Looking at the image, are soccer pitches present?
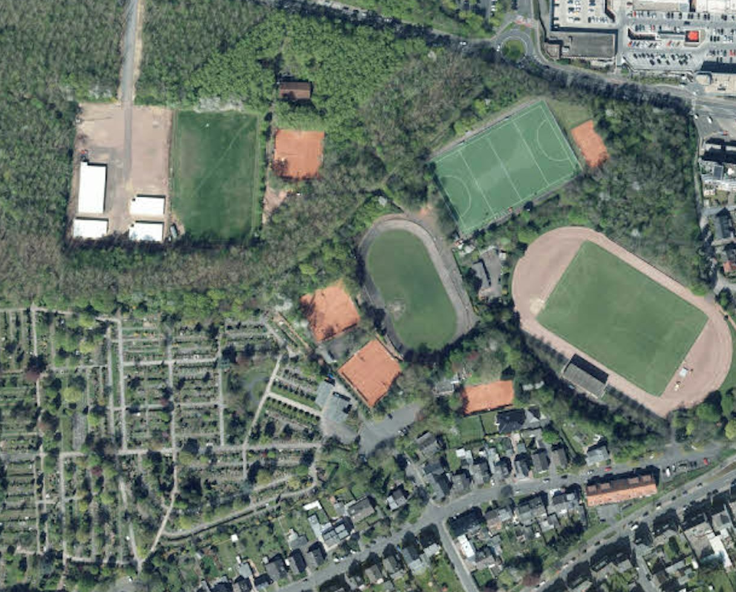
Yes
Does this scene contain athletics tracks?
Yes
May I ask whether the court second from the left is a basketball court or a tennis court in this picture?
tennis court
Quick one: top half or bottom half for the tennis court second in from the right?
bottom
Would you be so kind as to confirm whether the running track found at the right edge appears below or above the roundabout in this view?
below it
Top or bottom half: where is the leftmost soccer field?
top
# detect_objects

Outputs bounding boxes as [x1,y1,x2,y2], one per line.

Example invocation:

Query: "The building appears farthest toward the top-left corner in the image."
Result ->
[78,162,106,214]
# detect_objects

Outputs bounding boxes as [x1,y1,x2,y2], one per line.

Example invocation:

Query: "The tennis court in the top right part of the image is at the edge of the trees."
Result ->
[573,121,607,167]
